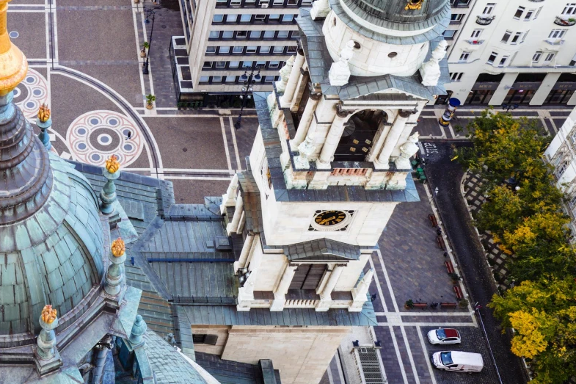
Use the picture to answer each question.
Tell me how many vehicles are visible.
two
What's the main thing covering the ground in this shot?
buildings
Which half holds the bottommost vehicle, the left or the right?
right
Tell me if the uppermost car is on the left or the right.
right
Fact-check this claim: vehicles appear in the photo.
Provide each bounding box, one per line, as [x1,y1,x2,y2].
[427,324,467,345]
[433,346,489,373]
